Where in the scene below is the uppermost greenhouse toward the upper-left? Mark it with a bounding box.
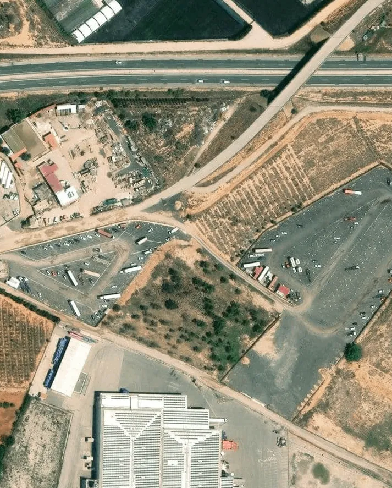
[71,0,122,43]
